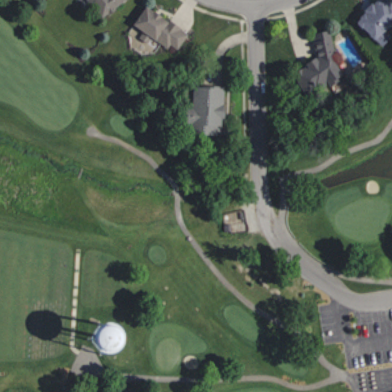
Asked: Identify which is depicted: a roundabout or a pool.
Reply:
pool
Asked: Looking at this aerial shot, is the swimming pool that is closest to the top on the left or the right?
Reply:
right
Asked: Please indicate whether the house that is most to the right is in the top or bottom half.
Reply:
top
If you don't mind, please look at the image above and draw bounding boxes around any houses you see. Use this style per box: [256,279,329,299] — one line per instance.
[187,86,226,136]
[134,8,190,50]
[86,0,127,19]
[356,2,392,48]
[299,32,342,92]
